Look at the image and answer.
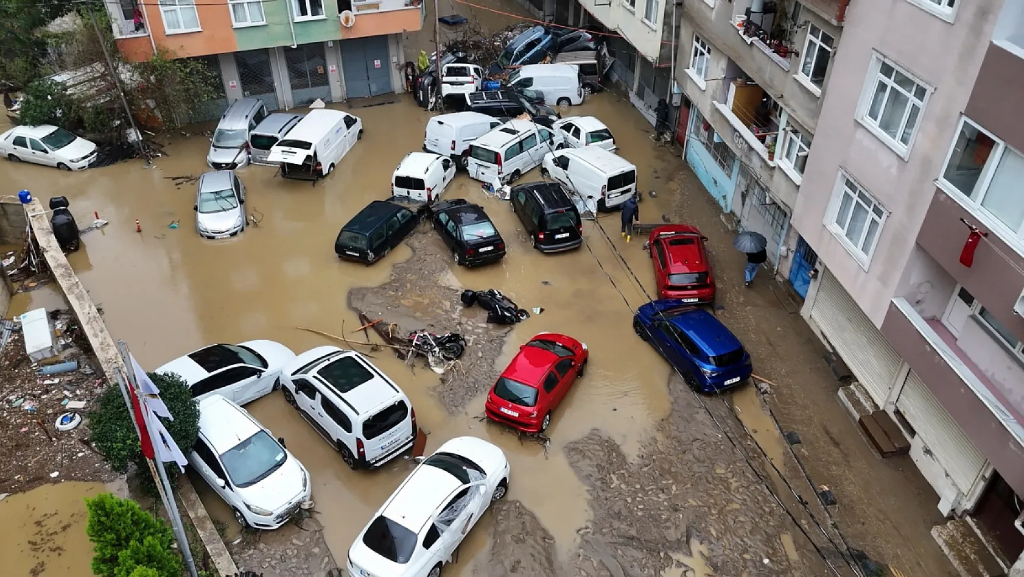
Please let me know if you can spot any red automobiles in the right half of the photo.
Yes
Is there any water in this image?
Yes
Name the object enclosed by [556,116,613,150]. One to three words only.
car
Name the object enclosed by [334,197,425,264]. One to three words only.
car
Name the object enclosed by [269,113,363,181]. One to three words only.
van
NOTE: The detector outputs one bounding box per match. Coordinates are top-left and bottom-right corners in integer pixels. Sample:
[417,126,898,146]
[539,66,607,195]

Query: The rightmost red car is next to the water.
[644,226,715,306]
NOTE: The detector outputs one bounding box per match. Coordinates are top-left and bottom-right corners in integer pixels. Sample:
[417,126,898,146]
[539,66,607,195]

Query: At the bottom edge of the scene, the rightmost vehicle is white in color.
[345,436,511,577]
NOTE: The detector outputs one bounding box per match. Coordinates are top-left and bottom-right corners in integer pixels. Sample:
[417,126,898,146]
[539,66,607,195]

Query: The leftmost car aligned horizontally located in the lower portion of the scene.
[132,330,294,401]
